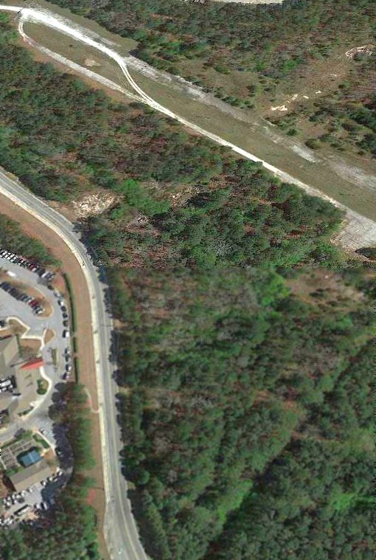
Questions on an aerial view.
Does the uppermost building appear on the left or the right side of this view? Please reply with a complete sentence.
You can find the uppermost building on the left side of the picture.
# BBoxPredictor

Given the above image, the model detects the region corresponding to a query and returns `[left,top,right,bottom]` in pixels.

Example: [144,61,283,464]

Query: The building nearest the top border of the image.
[0,334,43,418]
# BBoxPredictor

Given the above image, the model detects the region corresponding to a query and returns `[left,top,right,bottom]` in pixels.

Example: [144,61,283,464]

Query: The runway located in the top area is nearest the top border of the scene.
[130,55,321,162]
